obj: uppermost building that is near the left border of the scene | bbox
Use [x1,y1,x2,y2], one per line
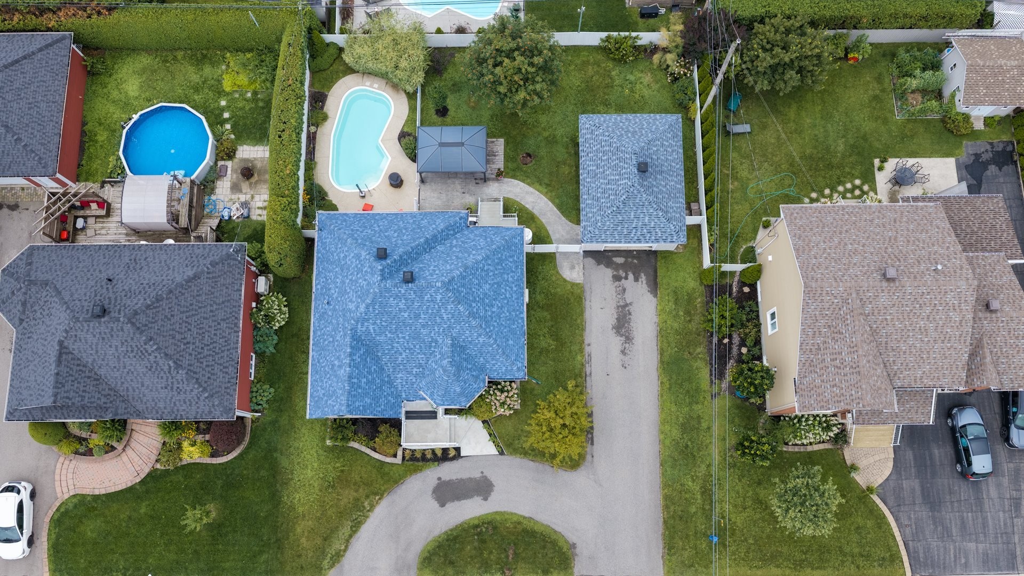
[0,31,89,185]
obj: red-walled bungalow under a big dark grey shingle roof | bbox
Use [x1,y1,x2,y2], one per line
[0,241,259,425]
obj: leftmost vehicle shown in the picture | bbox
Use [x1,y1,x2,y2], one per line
[0,481,35,558]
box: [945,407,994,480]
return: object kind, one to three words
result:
car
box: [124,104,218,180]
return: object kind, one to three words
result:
swimming pool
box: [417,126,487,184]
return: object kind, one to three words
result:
gazebo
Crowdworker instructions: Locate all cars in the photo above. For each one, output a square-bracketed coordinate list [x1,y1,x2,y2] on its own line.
[0,481,35,558]
[945,407,994,480]
[1003,390,1024,447]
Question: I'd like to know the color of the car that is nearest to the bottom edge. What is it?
white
